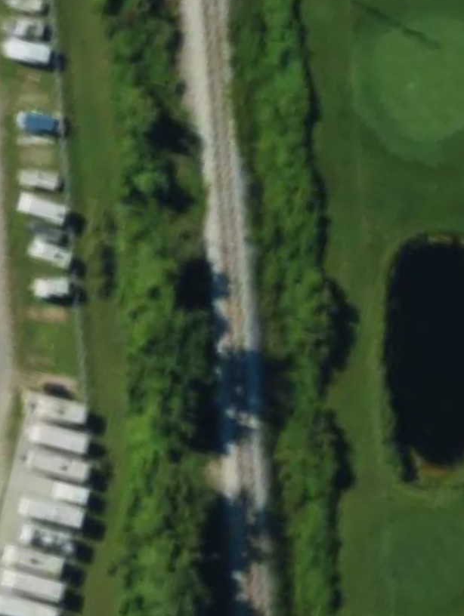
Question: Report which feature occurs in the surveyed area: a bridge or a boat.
boat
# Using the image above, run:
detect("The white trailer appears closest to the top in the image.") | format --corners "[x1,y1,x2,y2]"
[0,40,53,65]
